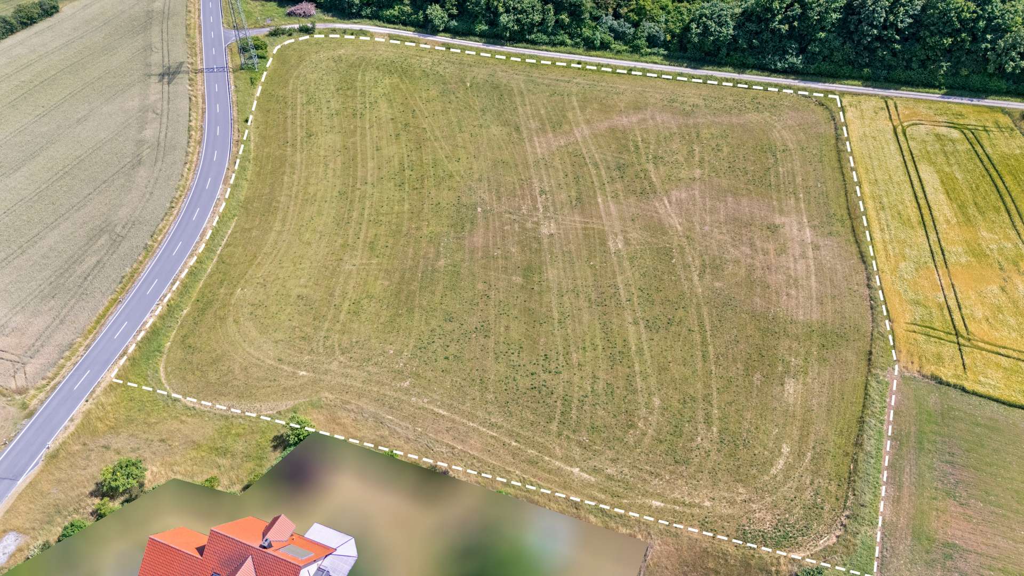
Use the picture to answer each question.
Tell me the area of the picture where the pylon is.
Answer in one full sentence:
The pylon sits in the top left section of the image.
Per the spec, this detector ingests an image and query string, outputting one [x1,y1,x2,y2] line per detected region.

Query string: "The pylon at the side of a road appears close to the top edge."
[218,0,261,71]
